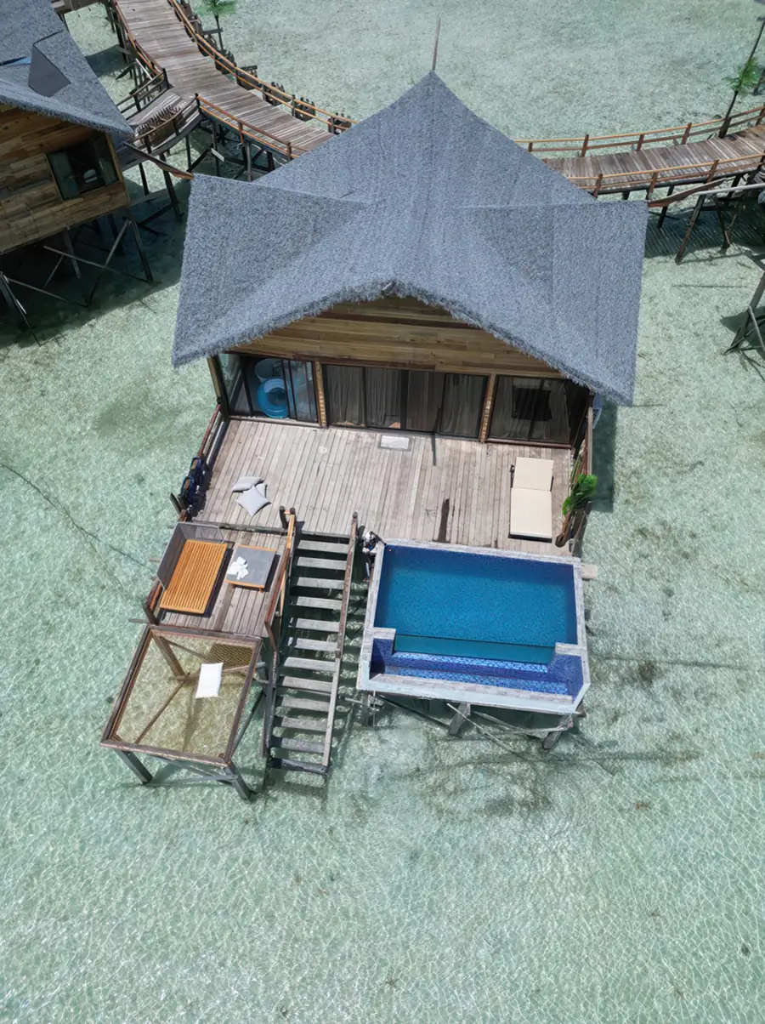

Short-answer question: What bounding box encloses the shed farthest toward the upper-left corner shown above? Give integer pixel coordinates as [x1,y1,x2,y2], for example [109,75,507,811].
[0,4,148,321]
